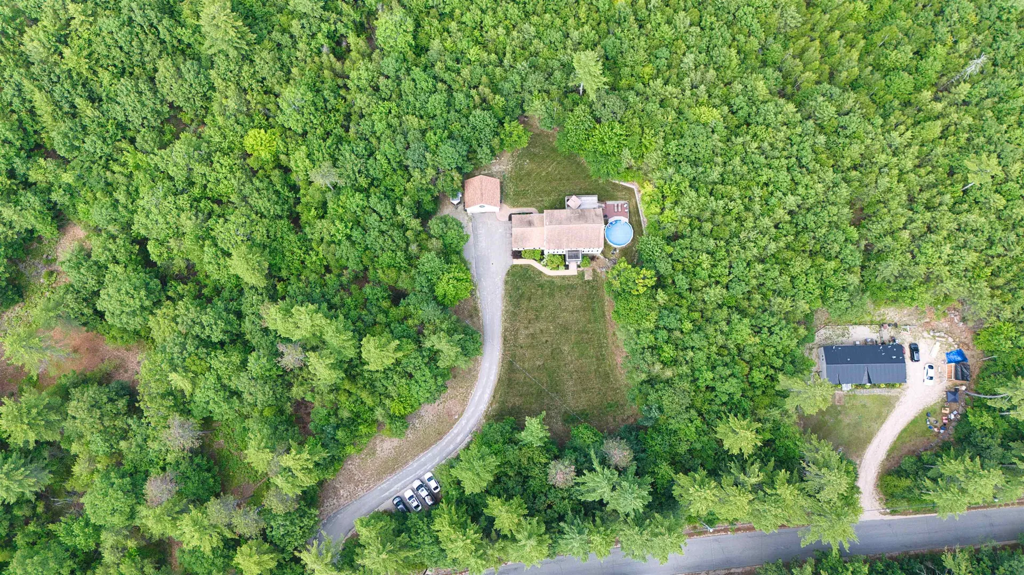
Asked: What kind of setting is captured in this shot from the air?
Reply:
forest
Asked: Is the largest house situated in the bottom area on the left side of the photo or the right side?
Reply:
right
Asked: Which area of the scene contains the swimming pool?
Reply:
center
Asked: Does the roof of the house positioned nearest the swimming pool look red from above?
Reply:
No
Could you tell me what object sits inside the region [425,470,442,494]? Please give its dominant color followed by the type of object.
white car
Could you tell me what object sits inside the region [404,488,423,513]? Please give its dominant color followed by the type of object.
white car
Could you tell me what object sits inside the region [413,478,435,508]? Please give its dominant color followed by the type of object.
white truck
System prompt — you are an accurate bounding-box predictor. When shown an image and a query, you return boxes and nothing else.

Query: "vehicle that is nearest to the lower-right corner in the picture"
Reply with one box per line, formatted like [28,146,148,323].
[923,363,936,386]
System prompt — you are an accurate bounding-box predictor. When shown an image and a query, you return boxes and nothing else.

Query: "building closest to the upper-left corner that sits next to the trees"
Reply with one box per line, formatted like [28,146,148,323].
[465,175,500,211]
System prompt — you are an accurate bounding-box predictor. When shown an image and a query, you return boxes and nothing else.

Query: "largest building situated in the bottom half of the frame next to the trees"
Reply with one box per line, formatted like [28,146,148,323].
[819,345,909,391]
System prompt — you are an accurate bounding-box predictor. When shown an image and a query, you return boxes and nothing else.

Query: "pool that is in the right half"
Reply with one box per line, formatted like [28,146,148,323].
[605,219,633,248]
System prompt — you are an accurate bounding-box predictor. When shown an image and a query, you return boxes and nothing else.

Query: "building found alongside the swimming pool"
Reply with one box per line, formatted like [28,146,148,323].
[512,208,605,267]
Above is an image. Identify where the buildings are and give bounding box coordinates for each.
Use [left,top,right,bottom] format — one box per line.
[819,345,909,391]
[943,362,974,388]
[465,175,500,211]
[512,208,605,267]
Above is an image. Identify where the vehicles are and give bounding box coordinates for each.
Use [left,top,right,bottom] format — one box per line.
[413,478,435,508]
[425,470,442,494]
[907,339,922,366]
[404,488,423,513]
[392,494,411,518]
[923,363,936,386]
